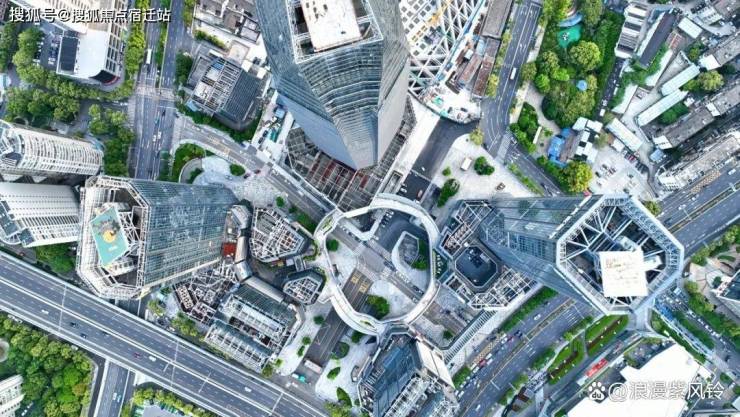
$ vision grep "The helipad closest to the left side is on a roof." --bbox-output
[89,205,135,267]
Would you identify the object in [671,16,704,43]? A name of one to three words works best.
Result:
shed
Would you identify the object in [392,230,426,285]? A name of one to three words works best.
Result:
building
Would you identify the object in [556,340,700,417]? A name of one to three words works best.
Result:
building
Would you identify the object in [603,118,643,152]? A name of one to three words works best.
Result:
shed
